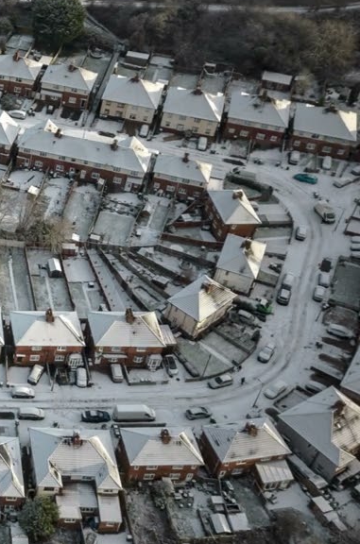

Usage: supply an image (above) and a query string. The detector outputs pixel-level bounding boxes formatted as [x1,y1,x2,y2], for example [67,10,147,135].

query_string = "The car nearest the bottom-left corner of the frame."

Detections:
[19,407,44,420]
